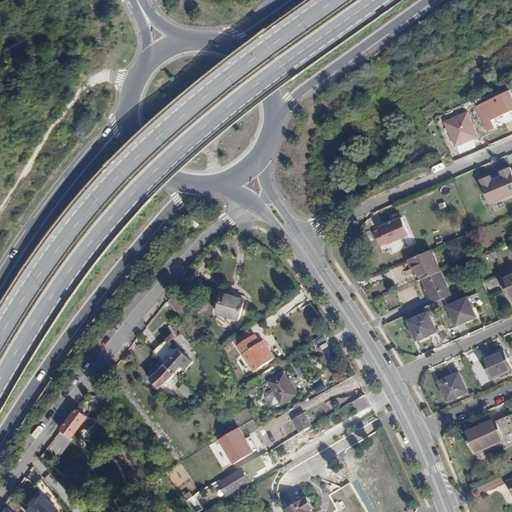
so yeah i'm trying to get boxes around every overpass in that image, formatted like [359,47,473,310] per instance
[0,0,414,412]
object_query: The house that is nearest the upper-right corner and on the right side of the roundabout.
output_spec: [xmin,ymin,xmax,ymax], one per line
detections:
[473,84,512,132]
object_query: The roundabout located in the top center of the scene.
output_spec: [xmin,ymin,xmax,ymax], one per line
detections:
[112,24,292,228]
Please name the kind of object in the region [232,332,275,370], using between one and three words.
house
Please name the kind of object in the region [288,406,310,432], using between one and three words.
building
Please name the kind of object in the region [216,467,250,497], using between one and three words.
house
